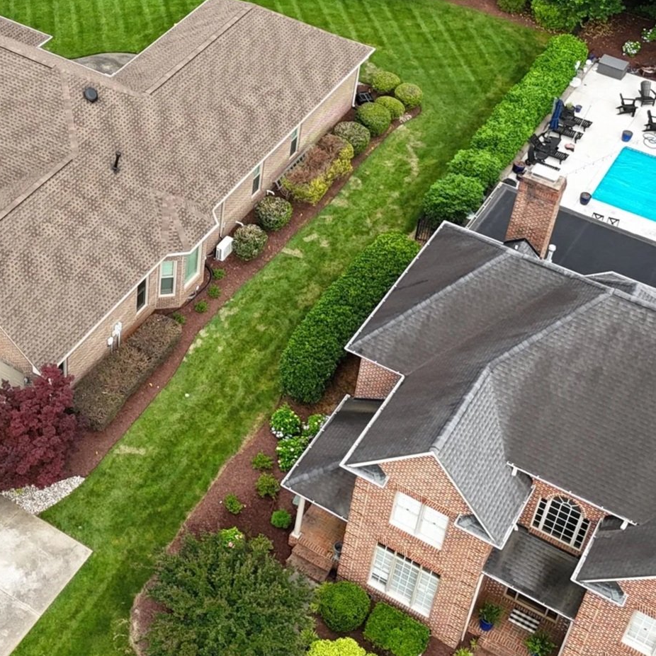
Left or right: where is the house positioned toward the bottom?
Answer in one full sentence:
You can find the house positioned toward the bottom on the right side of the picture.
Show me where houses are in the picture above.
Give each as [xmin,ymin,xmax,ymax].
[0,0,378,409]
[275,167,656,656]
